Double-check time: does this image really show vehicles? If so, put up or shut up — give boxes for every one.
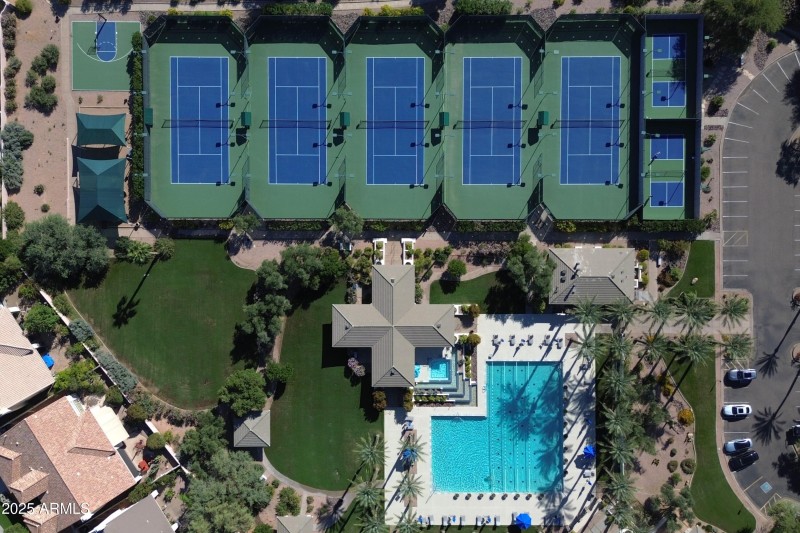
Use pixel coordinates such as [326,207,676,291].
[724,438,752,453]
[727,368,757,381]
[730,451,758,468]
[723,404,752,417]
[788,425,800,436]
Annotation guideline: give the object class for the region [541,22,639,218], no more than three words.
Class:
tennis court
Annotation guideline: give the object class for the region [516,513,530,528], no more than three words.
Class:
umbrella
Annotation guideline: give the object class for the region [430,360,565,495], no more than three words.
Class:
swimming pool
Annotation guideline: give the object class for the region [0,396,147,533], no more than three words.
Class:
house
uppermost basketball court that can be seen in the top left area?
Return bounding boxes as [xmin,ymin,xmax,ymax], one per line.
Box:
[70,20,141,91]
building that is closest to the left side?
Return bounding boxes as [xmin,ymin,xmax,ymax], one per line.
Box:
[0,305,59,416]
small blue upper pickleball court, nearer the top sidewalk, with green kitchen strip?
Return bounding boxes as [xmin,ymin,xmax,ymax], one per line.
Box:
[648,21,697,115]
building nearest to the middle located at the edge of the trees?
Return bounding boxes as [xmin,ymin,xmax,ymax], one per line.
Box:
[332,263,455,388]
